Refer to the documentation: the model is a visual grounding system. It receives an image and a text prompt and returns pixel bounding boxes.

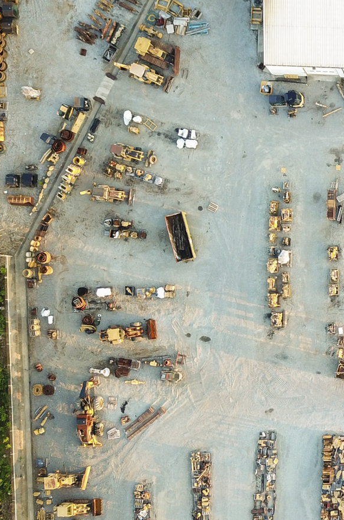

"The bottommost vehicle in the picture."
[55,494,113,519]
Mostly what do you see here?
paved ground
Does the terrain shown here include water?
No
